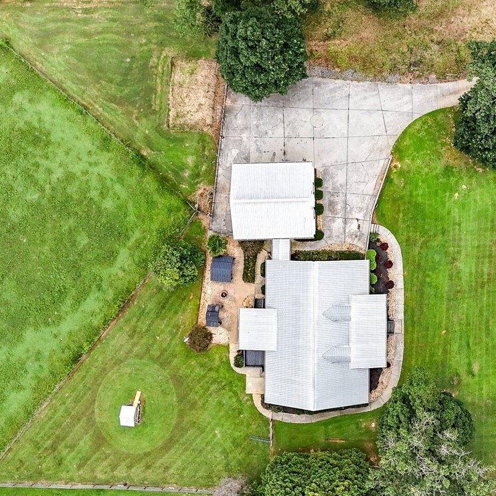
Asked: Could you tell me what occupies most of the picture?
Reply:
grass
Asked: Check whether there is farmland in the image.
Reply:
Yes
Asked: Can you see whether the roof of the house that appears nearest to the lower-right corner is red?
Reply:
No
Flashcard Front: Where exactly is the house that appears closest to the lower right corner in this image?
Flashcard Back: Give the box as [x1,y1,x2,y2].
[238,260,388,411]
